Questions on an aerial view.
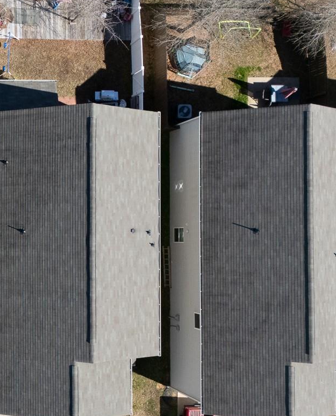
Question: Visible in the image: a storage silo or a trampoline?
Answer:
trampoline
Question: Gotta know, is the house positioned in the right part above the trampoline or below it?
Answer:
below it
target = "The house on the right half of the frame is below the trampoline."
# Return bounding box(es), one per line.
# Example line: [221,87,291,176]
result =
[170,105,336,416]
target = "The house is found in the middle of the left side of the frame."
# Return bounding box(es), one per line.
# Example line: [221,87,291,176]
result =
[0,79,163,416]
